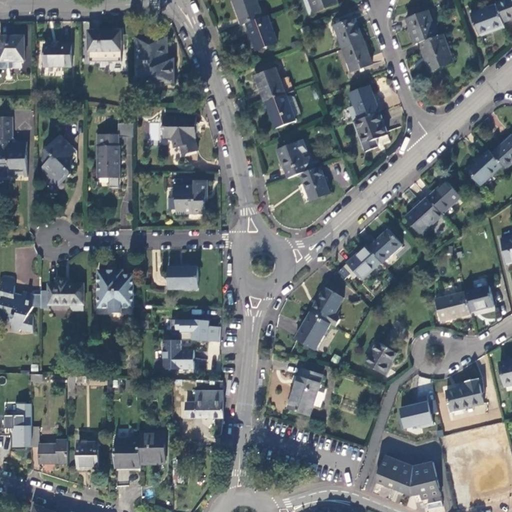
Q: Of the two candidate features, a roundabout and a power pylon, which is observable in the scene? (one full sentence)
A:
This aerial view contains a roundabout.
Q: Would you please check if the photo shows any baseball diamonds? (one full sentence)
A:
No, no baseball diamond can be seen from above.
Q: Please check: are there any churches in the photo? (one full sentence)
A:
No, no church is visible in the view.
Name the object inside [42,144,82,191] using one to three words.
house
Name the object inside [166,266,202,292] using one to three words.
house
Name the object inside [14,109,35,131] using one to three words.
shed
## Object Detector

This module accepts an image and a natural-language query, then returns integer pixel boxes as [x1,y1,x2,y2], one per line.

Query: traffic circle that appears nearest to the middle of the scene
[222,206,316,328]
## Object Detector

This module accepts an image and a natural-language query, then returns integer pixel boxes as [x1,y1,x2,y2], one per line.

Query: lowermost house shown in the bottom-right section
[366,450,446,512]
